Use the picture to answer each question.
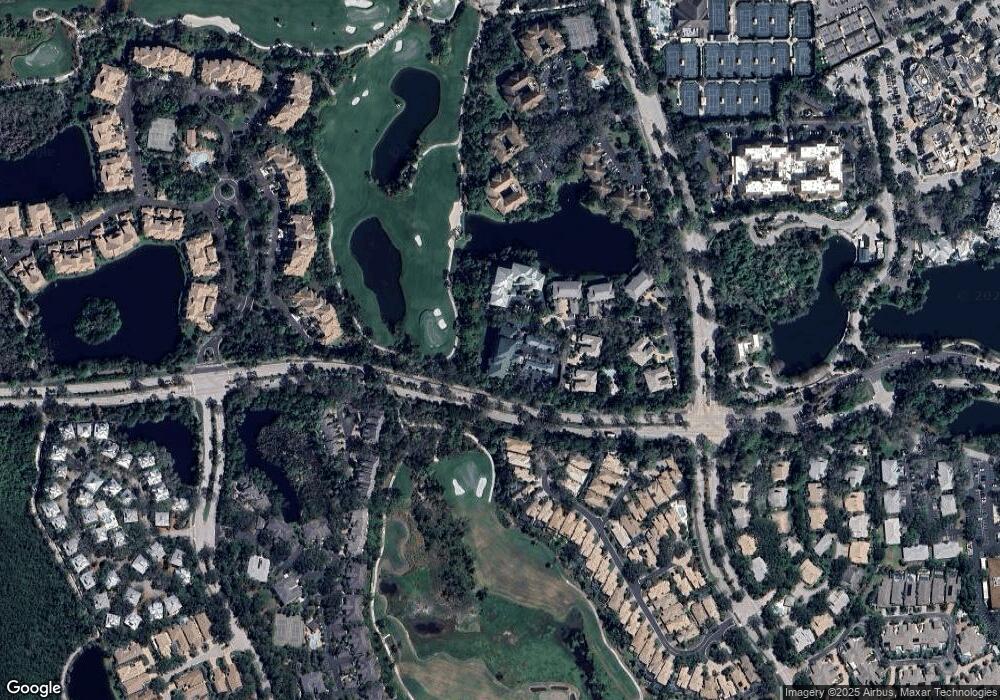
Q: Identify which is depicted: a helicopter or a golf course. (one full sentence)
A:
The image shows a golf course.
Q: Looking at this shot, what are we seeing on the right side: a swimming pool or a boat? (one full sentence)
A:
The feature located on the right side is a swimming pool.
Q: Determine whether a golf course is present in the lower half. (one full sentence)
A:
Yes, a golf course can be seen in the lower half.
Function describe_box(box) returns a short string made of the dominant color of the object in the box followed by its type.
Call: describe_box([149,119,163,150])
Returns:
gray tennis court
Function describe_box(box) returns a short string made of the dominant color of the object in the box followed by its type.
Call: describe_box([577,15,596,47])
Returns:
gray tennis court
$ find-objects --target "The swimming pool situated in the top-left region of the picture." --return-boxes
[181,147,215,171]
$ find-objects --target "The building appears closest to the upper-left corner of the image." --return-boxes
[92,64,127,103]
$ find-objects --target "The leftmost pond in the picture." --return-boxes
[64,645,118,700]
